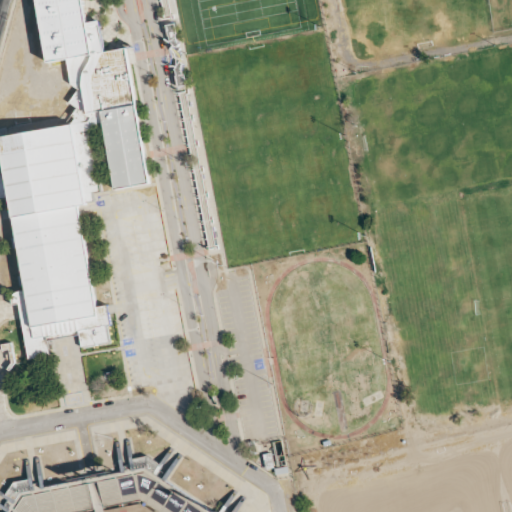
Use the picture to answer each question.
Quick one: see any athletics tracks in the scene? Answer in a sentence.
Yes, the image includes an athletics track.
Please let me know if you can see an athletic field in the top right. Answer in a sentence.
Yes, you'll find an athletic field in the top right.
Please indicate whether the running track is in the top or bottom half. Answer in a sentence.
Seen from above, the running track lies in the bottom half of the view.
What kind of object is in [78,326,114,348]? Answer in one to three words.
building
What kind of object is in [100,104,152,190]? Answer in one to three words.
building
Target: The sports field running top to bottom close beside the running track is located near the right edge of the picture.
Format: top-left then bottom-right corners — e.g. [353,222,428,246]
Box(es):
[347,46,512,414]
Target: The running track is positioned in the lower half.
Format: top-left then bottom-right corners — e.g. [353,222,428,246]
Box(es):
[265,258,390,439]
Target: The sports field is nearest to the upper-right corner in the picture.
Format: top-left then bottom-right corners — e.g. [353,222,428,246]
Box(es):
[344,0,512,61]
